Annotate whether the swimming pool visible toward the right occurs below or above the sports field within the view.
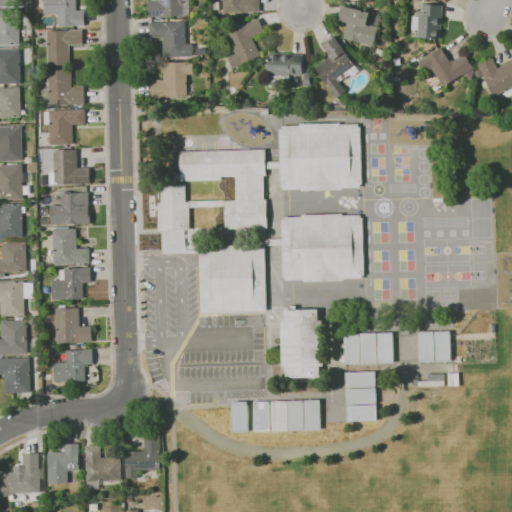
above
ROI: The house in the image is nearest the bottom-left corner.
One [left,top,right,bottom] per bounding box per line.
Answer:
[5,454,39,494]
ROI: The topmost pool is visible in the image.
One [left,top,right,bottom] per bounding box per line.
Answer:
[40,16,57,29]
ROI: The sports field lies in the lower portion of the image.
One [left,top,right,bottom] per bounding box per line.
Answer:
[176,108,512,512]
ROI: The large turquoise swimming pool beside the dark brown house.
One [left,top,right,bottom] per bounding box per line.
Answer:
[343,70,370,96]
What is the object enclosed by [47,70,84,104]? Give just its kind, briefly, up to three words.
house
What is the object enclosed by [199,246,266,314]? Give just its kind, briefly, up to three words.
building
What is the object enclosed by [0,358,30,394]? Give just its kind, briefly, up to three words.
house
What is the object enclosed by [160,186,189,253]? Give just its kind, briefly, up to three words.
building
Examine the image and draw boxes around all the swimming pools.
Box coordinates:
[40,16,57,29]
[343,70,370,96]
